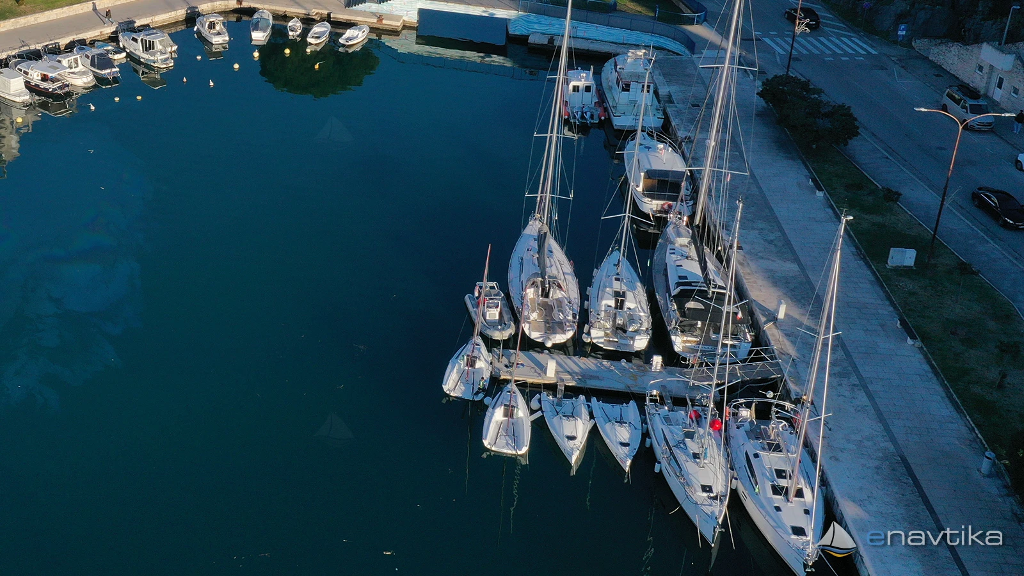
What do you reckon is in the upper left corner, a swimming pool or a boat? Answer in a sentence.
There is a boat in the upper left corner.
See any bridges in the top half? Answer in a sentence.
No, there is no bridge in the top half.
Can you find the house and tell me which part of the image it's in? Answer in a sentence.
The house is located in the top right region of the scene.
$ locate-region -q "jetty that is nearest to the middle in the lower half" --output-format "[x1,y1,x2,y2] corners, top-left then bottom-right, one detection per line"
[493,351,729,406]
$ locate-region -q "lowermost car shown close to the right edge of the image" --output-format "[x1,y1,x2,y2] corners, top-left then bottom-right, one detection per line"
[973,186,1024,229]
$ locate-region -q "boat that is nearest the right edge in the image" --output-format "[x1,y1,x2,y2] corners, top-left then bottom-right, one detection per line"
[727,191,854,576]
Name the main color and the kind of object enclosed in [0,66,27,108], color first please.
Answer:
white boat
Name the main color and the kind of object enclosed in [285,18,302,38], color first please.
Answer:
white boat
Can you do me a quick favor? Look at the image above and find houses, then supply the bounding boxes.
[948,21,1024,115]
